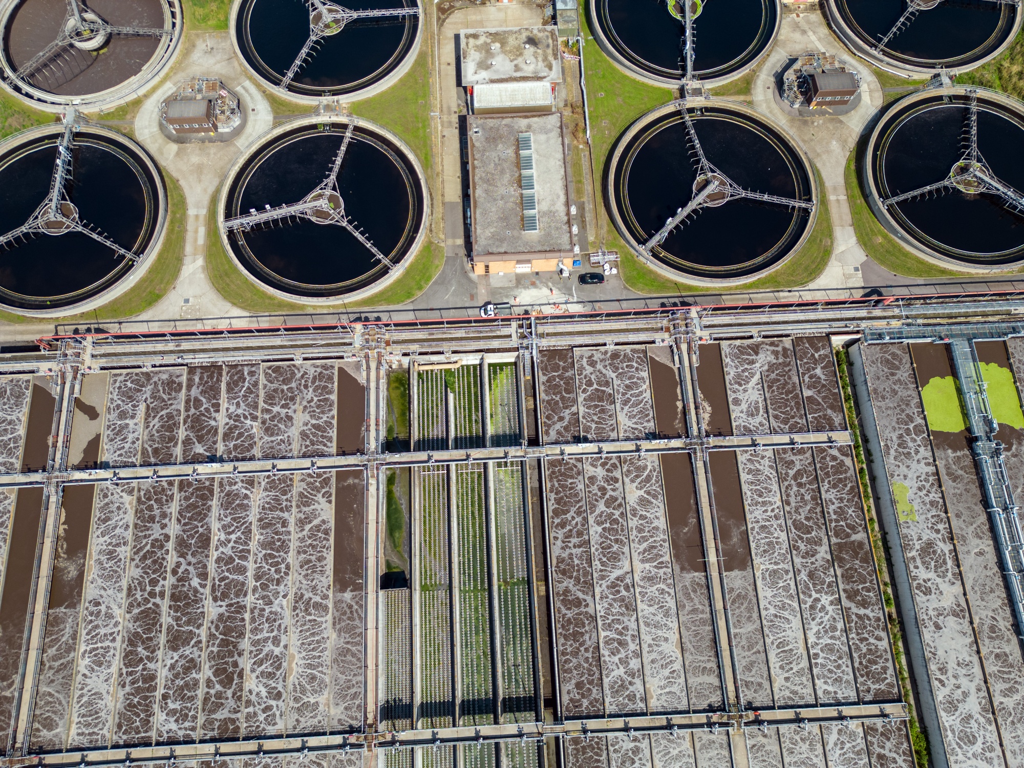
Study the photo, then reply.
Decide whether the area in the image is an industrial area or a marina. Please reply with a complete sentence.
This looks like an industrial area.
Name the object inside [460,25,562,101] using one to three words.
house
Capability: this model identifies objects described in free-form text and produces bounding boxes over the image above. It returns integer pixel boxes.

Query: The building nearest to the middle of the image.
[468,112,574,274]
